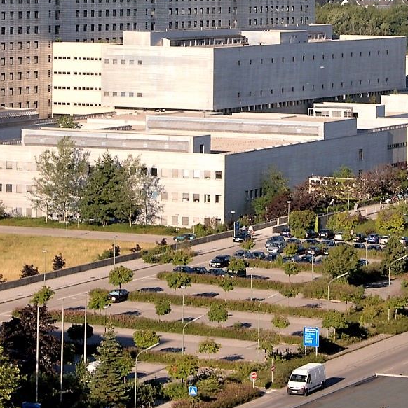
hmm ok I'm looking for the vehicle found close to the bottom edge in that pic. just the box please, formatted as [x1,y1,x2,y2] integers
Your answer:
[288,362,327,394]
